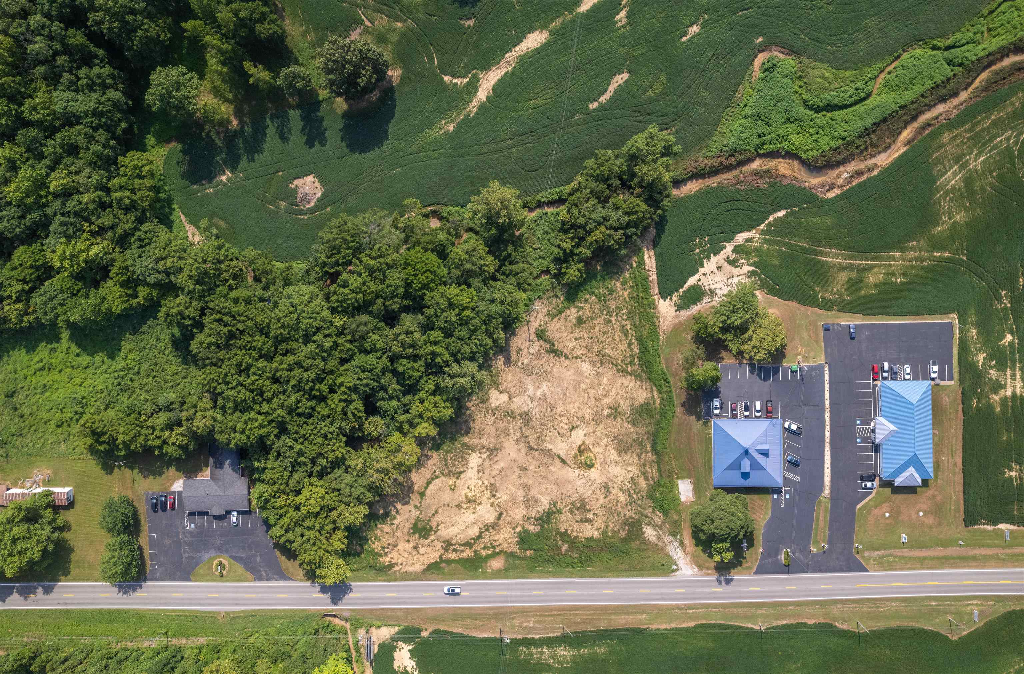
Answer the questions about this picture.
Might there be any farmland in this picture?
Yes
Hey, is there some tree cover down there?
Yes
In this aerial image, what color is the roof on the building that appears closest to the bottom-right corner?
blue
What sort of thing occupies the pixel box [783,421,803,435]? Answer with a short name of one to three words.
vehicle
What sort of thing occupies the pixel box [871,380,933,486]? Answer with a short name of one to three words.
building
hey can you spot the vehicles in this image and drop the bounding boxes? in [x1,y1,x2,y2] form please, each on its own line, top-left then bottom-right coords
[890,364,898,379]
[232,511,239,526]
[742,400,750,416]
[903,365,910,380]
[754,401,762,417]
[786,456,801,465]
[783,421,803,435]
[870,364,879,380]
[859,474,875,481]
[159,493,168,510]
[444,586,461,594]
[928,360,938,379]
[765,400,773,418]
[861,482,876,489]
[848,324,856,340]
[150,495,159,511]
[730,403,738,417]
[168,495,176,509]
[881,362,890,378]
